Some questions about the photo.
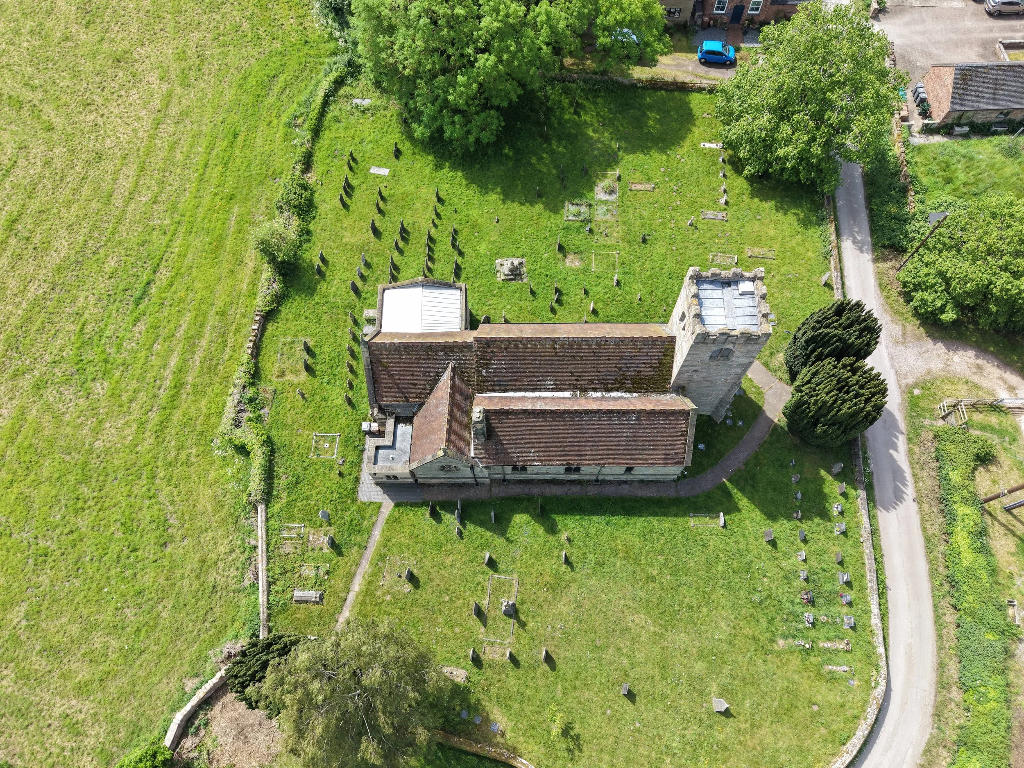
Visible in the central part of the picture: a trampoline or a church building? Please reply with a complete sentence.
What appears in the central part of the picture is a church building.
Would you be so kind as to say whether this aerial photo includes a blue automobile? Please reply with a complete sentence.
Yes, you can see a blue automobile in this photo.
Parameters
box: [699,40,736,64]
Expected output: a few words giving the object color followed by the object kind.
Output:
blue car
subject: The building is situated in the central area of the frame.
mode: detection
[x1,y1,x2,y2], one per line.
[359,267,774,491]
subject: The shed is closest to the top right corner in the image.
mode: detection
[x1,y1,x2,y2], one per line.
[919,62,1024,133]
